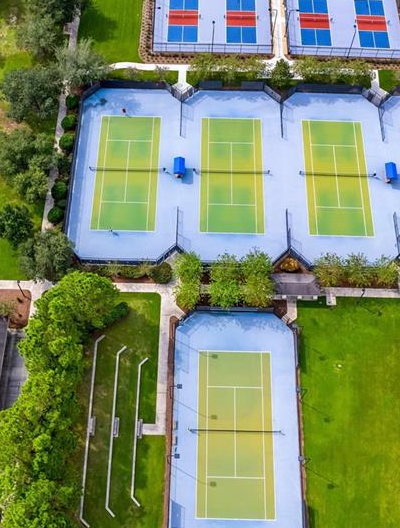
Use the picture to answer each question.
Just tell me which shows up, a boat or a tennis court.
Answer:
tennis court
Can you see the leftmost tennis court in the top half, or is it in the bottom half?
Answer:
top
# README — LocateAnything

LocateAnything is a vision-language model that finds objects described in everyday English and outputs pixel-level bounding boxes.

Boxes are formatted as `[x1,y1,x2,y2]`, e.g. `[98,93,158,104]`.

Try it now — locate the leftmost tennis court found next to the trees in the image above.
[68,89,181,255]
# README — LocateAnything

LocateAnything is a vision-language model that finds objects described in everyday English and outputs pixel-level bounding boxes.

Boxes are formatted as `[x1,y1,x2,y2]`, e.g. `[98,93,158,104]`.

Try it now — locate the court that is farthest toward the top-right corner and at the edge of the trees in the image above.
[340,0,400,58]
